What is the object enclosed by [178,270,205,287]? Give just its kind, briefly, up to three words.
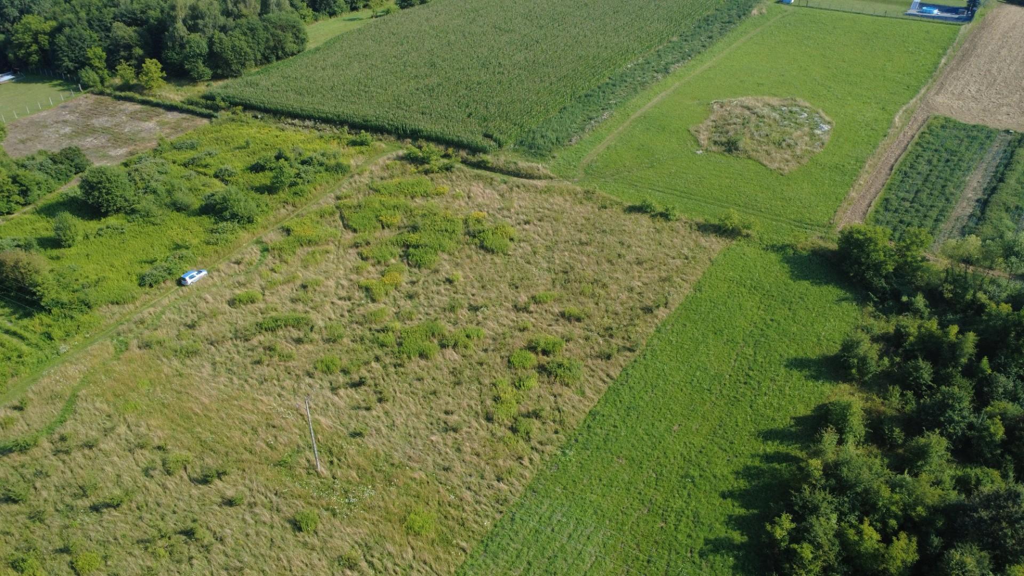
car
